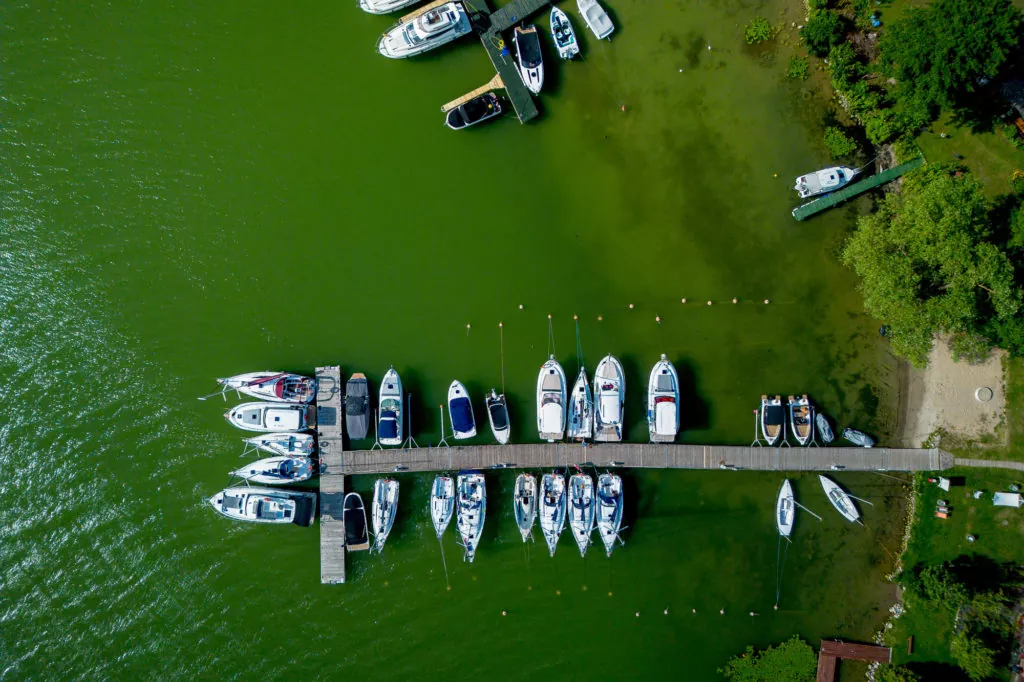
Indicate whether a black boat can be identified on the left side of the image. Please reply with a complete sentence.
Yes, a black boat can be seen on the left side of the image.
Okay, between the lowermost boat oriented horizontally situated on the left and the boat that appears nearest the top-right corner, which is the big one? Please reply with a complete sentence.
The lowermost boat oriented horizontally situated on the left takes up more space than the boat that appears nearest the top-right corner.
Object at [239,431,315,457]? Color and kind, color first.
white boat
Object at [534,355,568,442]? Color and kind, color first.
white boat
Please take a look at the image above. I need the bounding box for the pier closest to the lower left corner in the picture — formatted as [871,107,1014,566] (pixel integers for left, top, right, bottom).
[315,366,345,584]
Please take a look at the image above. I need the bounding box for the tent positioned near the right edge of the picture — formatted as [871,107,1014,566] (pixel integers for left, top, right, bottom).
[986,490,1021,507]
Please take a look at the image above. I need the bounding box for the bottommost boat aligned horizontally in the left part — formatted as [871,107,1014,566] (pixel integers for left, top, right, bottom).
[205,484,320,525]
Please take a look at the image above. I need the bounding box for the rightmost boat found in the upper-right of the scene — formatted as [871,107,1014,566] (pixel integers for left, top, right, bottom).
[790,165,860,196]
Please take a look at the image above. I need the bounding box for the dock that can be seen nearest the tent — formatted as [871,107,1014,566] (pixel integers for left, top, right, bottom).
[342,443,954,474]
